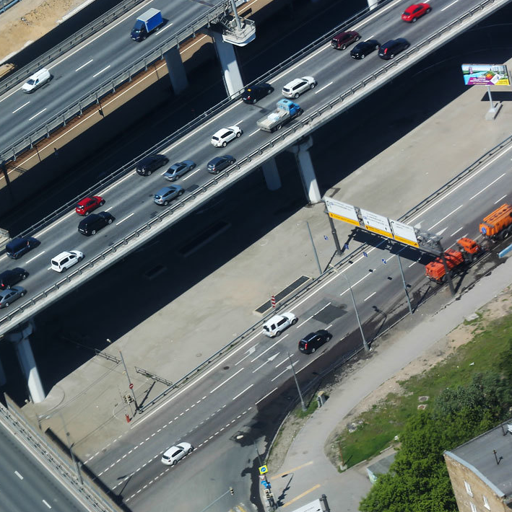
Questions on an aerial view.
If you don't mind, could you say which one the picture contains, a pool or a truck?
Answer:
truck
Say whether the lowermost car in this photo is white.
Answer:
Yes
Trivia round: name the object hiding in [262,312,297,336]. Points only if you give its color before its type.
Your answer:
white car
